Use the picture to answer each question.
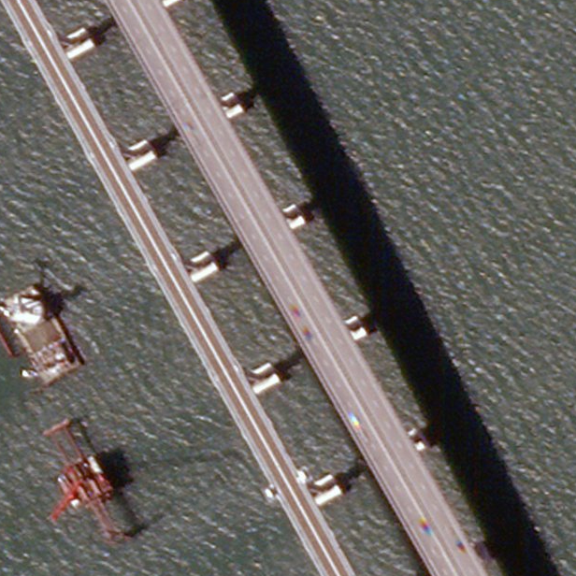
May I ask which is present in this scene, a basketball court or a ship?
ship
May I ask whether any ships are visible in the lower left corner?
Yes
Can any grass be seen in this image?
No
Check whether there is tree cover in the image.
No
